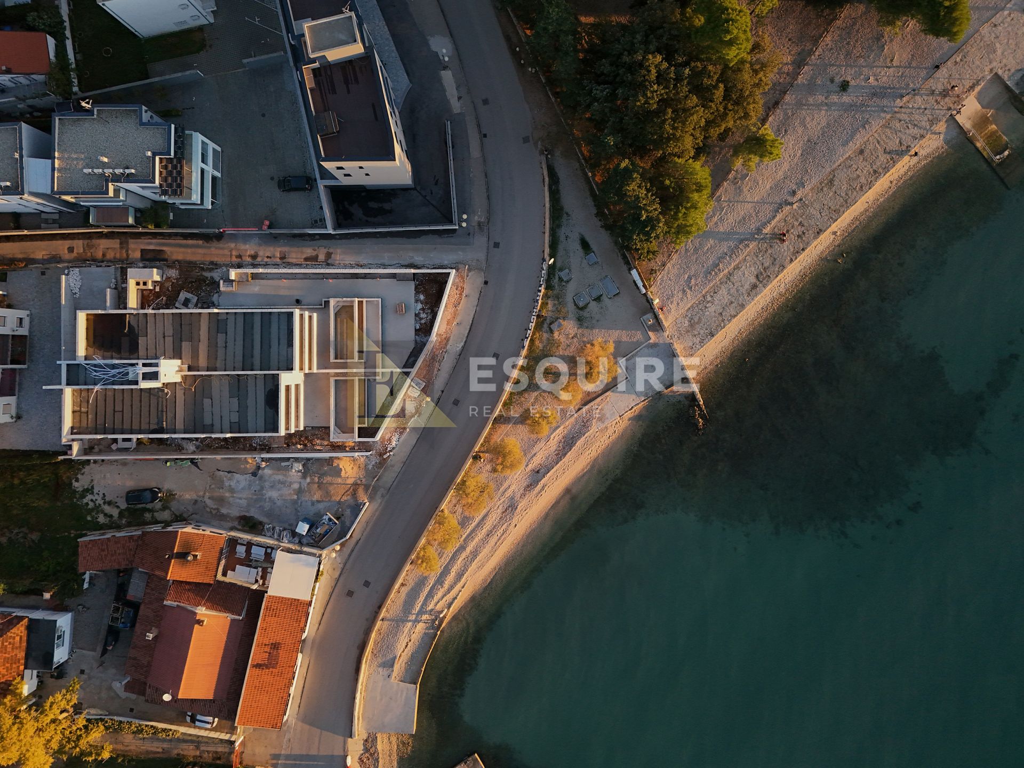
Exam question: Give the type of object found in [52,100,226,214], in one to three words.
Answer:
building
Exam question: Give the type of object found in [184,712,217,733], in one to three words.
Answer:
car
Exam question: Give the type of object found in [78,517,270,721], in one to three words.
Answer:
house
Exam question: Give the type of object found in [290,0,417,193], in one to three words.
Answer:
building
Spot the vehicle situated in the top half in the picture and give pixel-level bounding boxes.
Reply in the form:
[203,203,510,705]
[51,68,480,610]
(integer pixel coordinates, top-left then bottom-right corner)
[276,172,312,191]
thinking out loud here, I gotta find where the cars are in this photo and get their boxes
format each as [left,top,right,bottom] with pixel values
[121,487,160,506]
[276,172,312,191]
[184,712,217,733]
